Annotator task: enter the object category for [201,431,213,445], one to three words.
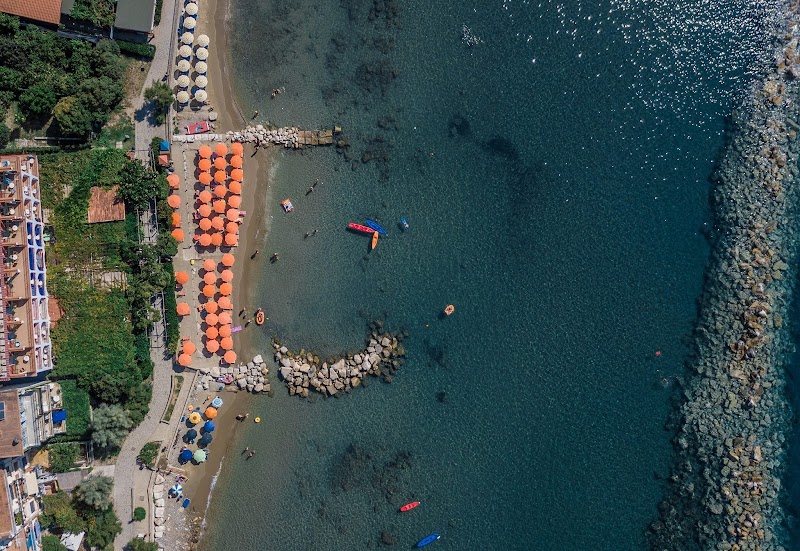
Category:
umbrella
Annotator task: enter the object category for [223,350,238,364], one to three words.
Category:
umbrella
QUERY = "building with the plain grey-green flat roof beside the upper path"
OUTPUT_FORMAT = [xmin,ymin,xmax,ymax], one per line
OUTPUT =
[115,0,166,41]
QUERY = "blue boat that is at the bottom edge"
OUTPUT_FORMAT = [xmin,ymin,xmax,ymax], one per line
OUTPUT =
[416,534,440,546]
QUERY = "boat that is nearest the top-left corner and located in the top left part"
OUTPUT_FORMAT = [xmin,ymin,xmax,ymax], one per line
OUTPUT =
[186,120,209,134]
